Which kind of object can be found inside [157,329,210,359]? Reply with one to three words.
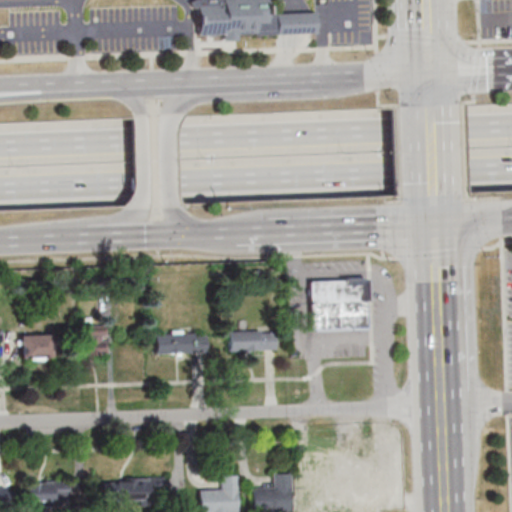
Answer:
house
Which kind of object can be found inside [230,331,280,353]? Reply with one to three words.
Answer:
house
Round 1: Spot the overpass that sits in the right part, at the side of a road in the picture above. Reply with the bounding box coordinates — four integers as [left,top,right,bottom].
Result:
[396,102,468,198]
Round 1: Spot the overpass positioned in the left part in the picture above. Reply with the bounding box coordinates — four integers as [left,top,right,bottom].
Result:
[124,95,190,228]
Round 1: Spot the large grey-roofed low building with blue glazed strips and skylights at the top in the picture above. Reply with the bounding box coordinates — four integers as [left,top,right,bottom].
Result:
[192,0,279,40]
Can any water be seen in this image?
No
